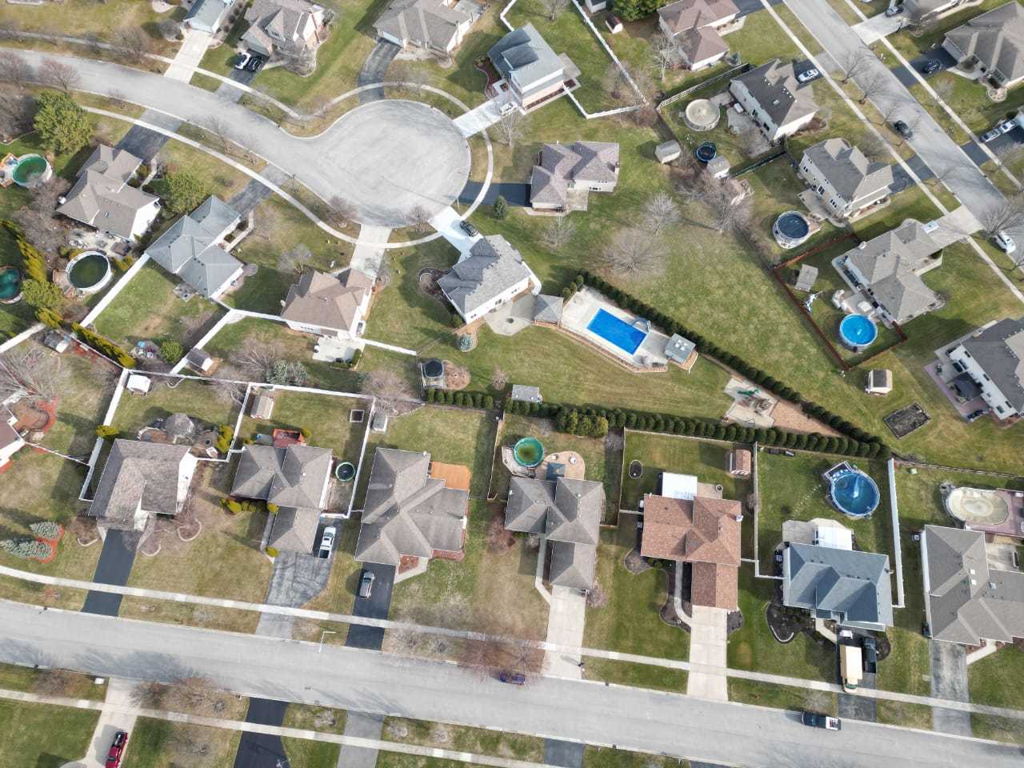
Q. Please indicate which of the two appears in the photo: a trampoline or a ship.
trampoline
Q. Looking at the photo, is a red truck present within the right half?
No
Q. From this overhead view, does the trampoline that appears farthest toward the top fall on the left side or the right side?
right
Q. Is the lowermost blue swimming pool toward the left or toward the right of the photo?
right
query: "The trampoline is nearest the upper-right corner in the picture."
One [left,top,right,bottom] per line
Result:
[696,137,718,160]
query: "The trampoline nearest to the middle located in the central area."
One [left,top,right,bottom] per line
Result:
[420,359,443,381]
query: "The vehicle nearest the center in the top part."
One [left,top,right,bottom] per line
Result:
[459,217,480,238]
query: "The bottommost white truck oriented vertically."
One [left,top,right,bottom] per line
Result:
[844,640,866,692]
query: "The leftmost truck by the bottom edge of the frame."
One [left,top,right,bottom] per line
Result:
[103,732,126,768]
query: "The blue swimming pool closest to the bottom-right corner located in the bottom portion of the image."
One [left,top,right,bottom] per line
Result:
[827,467,879,515]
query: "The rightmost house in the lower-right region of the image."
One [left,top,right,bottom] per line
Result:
[916,525,1024,647]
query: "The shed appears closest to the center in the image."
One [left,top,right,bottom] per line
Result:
[513,384,543,403]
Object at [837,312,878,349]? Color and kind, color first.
blue swimming pool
